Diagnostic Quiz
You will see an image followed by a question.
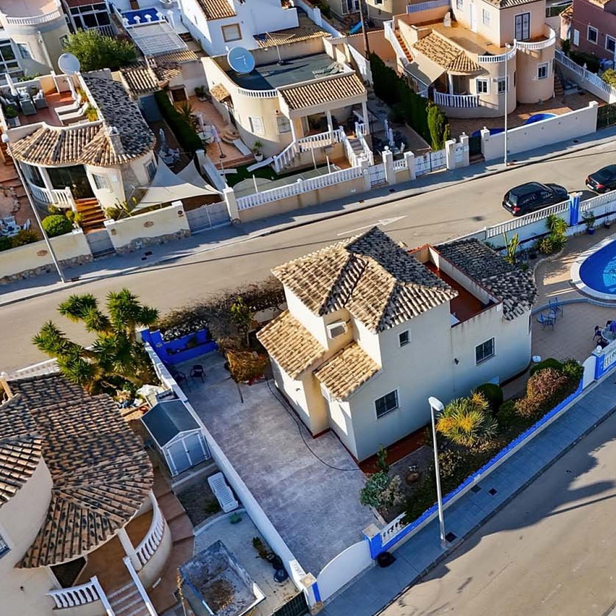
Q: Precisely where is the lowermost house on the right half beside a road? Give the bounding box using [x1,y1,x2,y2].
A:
[258,224,543,465]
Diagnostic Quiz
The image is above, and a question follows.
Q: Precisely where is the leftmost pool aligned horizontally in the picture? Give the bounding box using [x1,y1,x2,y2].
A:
[118,8,163,29]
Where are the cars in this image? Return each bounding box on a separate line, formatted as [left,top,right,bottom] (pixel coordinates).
[585,161,616,193]
[500,180,572,220]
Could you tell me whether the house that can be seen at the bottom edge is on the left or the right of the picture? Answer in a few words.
left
